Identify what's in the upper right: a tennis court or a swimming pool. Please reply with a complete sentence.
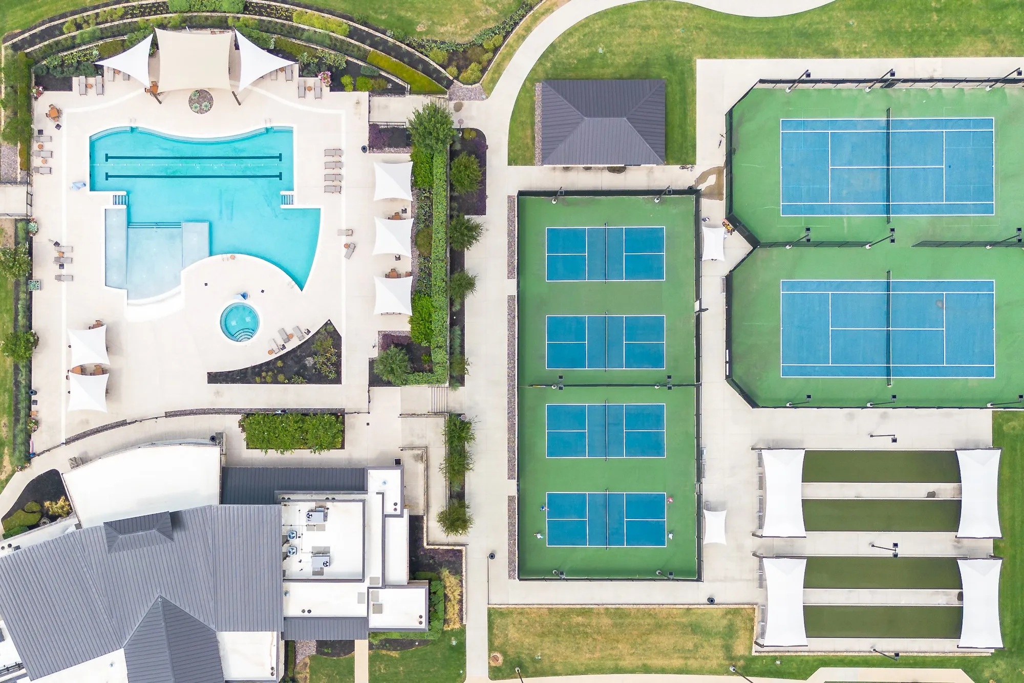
What appears in the upper right is a tennis court.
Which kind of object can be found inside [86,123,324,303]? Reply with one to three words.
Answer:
swimming pool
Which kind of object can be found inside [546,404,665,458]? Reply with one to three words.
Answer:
sports court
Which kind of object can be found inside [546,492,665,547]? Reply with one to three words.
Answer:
sports court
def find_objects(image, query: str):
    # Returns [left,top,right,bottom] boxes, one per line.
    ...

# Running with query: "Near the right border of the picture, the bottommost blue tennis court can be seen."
[781,280,995,378]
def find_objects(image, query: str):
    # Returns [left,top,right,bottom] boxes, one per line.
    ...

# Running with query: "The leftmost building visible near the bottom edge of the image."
[0,433,430,683]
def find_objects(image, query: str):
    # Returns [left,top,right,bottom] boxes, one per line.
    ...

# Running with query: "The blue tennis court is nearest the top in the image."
[781,107,995,226]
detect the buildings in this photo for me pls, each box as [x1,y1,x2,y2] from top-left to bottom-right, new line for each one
[541,78,666,168]
[0,433,430,683]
